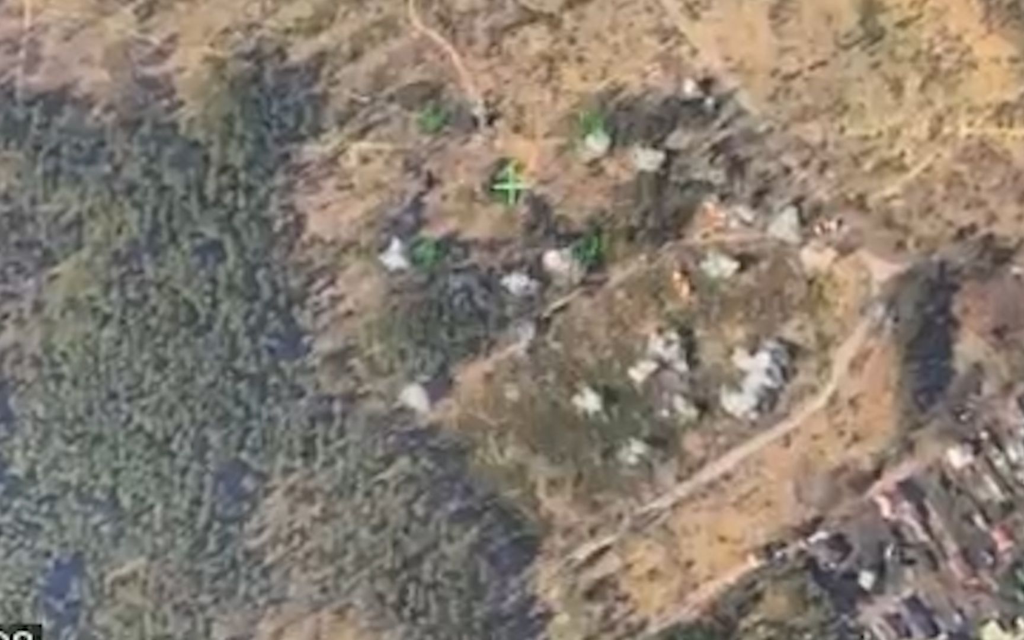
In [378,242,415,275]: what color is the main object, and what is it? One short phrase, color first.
white tent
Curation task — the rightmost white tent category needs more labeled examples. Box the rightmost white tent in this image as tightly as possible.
[767,207,802,242]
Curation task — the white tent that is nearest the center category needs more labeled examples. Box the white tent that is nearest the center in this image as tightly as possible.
[542,251,568,276]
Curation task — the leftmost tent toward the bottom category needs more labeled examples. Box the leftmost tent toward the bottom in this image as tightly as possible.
[400,385,430,419]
